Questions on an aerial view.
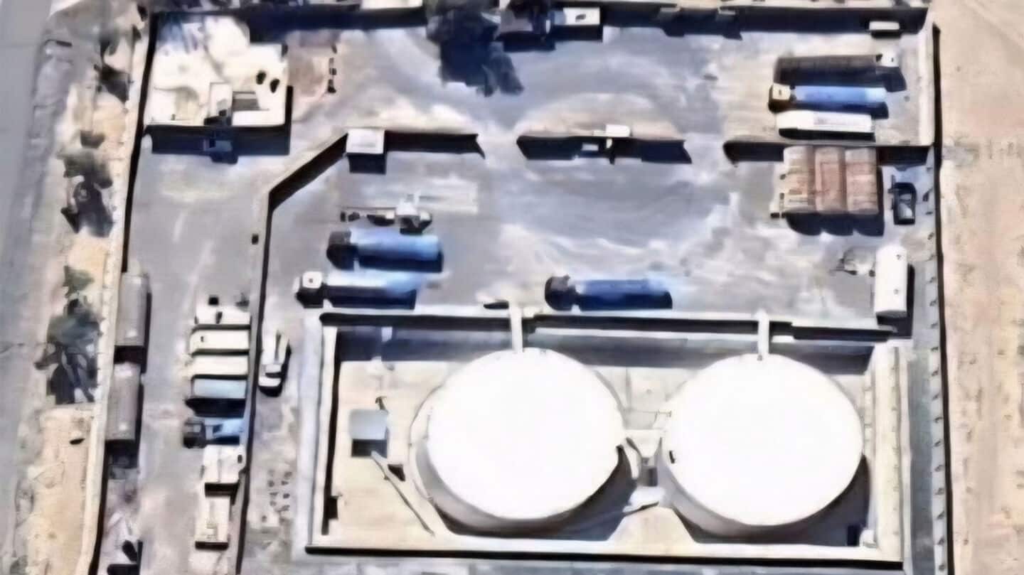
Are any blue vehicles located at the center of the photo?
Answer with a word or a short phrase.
Yes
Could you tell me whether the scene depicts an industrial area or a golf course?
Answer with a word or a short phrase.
industrial area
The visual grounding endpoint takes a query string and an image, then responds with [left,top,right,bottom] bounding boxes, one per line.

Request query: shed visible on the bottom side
[350,410,387,449]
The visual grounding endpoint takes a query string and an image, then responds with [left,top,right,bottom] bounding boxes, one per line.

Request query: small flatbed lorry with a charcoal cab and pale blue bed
[183,415,243,441]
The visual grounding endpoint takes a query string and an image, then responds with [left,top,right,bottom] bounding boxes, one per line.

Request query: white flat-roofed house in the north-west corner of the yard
[147,18,288,161]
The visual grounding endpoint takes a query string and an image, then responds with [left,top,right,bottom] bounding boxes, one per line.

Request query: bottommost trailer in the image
[195,488,230,546]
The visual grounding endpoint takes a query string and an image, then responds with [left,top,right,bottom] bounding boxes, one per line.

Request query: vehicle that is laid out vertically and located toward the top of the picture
[894,182,915,225]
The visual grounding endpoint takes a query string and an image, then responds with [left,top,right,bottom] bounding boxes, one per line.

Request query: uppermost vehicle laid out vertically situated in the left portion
[259,331,284,394]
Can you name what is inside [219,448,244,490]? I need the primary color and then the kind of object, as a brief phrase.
white vehicle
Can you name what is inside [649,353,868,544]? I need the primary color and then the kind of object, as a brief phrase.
white storage tank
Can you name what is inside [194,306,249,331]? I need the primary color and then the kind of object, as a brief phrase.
white truck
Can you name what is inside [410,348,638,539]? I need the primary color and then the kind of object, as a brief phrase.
white storage tank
